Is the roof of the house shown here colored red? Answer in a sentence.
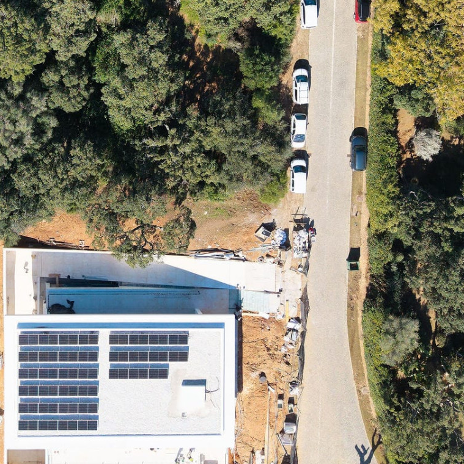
No, from above the roof of the house looks white.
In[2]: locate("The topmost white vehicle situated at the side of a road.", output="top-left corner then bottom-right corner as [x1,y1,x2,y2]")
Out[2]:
[299,0,318,30]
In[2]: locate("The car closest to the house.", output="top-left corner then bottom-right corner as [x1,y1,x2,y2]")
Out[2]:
[289,158,308,194]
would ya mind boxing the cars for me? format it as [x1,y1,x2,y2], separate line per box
[289,158,308,194]
[290,113,308,148]
[299,0,318,30]
[348,132,368,167]
[291,69,309,105]
[352,0,370,23]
